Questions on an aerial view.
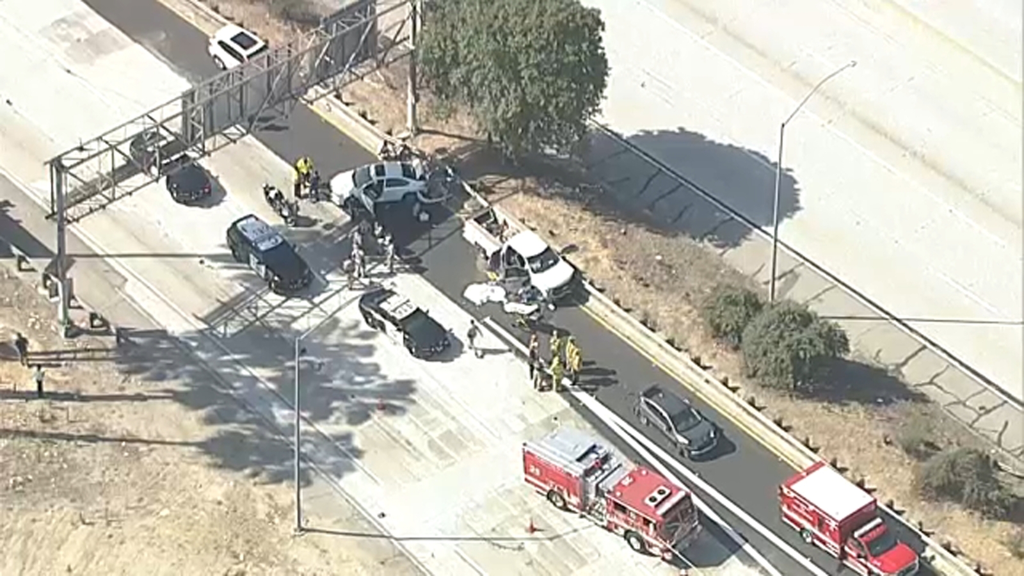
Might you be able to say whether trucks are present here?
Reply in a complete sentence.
Yes, the image includes a truck.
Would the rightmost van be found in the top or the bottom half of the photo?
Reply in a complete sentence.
Seen from above, the rightmost van lies in the bottom half of the view.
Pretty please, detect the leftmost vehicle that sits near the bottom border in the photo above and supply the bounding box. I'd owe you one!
[518,416,709,571]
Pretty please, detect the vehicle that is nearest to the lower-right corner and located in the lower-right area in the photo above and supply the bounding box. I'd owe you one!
[778,464,912,576]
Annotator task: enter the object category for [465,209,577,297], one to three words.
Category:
truck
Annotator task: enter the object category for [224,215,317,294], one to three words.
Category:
car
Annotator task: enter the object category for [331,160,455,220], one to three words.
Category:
car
